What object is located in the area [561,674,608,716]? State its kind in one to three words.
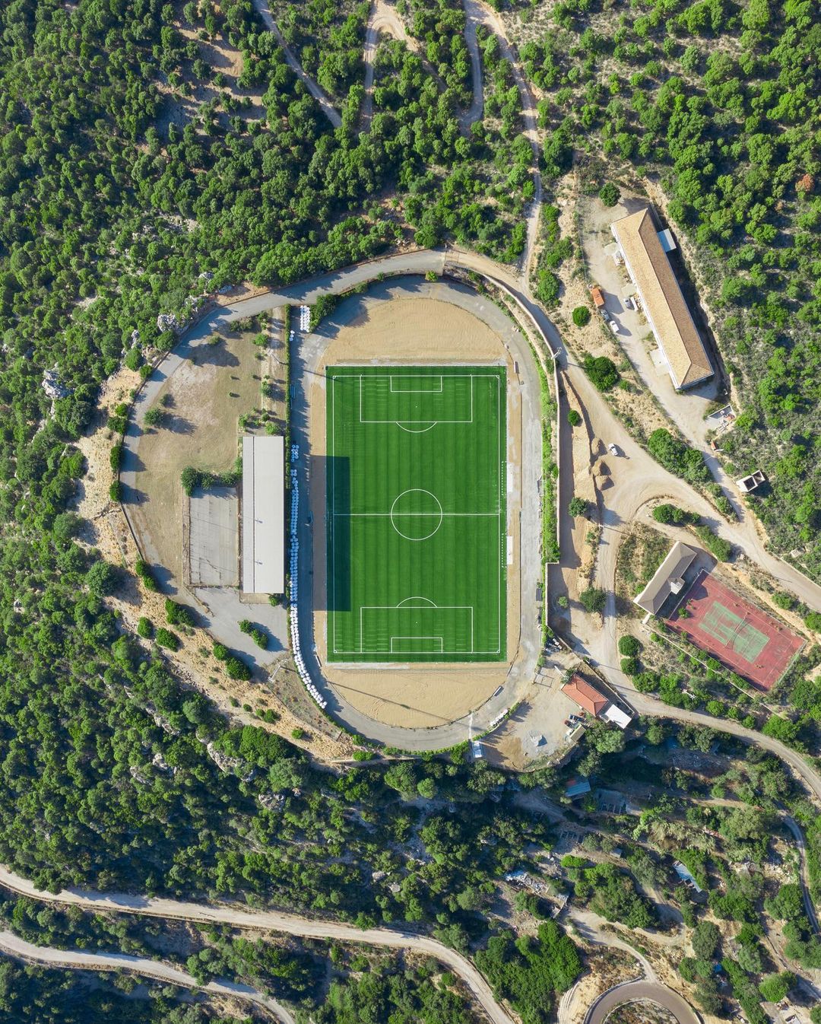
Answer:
house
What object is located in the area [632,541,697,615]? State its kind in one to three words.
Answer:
building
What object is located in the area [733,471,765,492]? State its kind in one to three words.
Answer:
building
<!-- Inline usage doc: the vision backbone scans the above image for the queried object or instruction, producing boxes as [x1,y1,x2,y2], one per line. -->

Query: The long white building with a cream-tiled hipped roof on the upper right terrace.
[612,208,715,387]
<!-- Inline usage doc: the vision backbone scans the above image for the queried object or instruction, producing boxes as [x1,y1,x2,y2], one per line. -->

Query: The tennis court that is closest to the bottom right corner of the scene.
[666,570,811,693]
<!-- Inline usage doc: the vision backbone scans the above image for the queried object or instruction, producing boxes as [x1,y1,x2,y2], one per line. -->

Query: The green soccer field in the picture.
[325,365,508,663]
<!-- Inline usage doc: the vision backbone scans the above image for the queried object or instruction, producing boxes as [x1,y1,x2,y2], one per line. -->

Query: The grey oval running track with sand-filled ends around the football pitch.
[291,275,542,752]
